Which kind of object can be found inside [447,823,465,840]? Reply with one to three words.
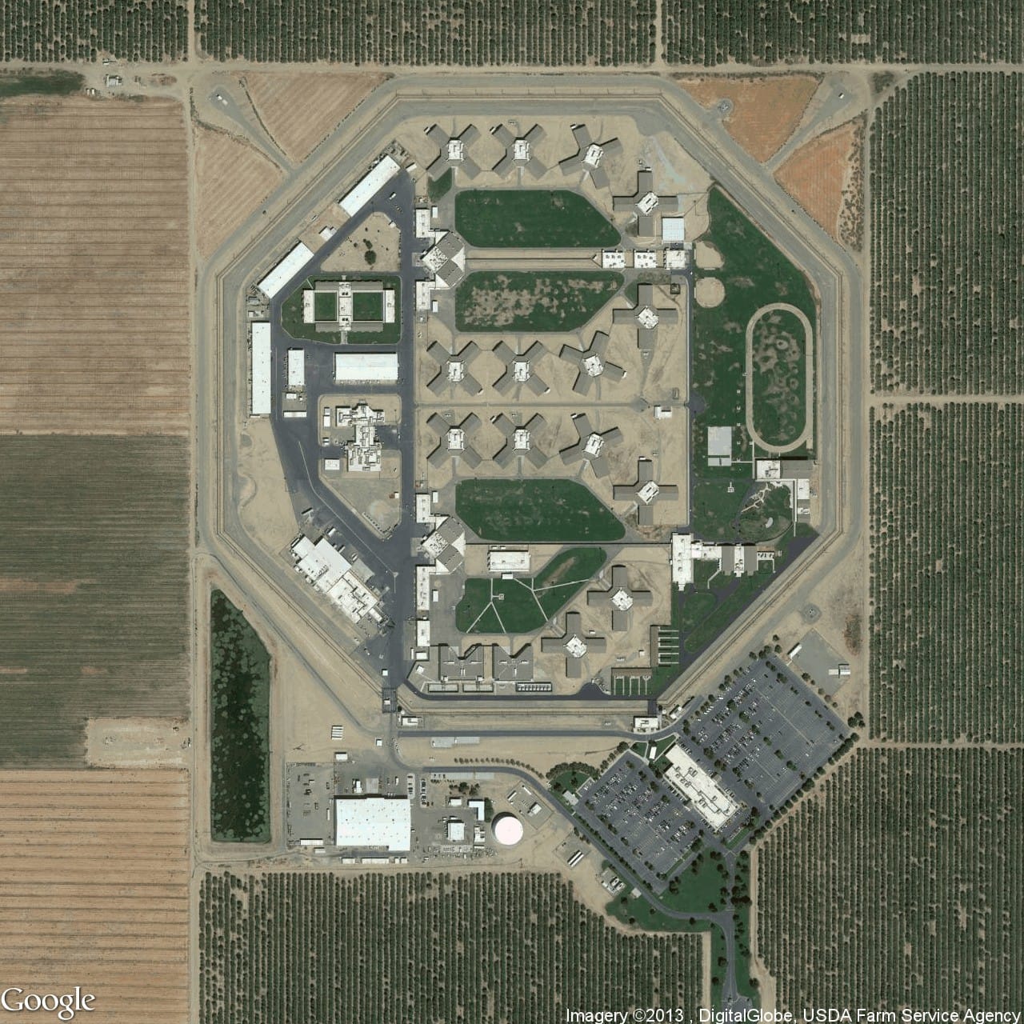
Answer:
building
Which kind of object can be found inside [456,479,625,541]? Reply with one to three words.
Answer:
sports field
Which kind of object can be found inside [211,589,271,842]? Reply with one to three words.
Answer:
pond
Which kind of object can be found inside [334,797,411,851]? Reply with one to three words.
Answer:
building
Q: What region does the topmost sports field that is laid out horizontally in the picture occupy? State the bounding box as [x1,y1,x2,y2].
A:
[455,190,620,247]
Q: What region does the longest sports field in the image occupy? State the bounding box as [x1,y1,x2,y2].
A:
[693,188,816,481]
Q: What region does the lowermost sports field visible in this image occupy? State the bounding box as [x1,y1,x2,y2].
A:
[456,548,606,634]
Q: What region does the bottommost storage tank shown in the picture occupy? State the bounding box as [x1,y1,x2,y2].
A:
[491,814,523,846]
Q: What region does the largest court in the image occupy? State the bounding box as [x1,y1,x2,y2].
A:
[708,426,731,455]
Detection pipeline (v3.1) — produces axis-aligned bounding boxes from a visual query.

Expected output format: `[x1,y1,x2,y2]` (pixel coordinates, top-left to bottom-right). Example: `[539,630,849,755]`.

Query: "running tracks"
[746,302,813,453]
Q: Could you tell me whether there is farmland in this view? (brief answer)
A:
Yes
